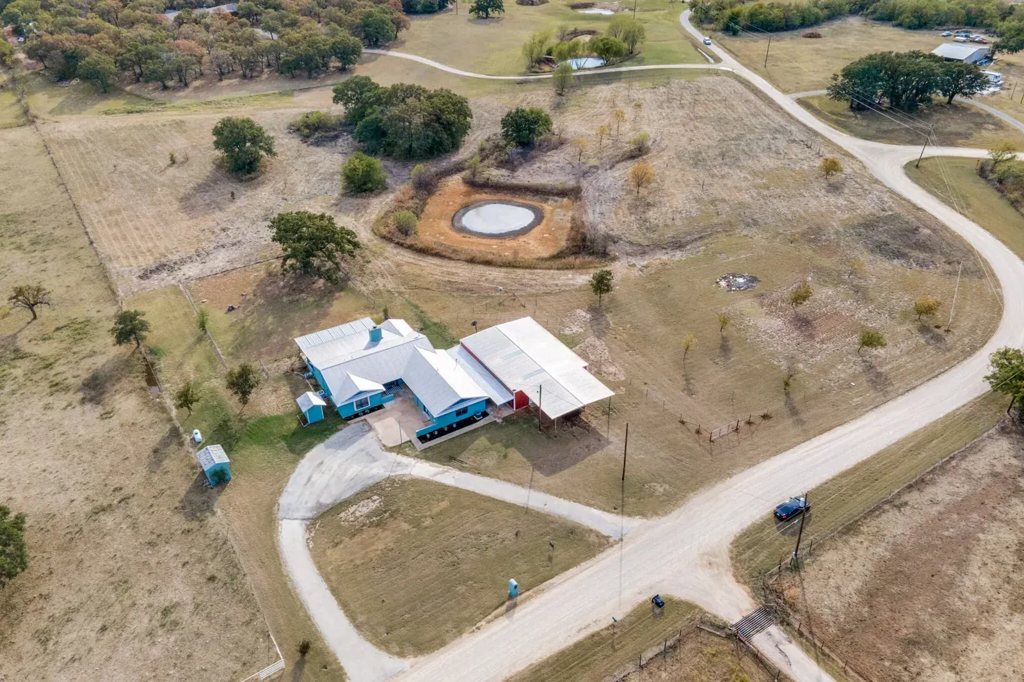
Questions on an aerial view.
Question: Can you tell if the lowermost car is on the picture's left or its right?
right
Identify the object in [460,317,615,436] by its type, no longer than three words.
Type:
barn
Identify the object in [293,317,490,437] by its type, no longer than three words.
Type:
house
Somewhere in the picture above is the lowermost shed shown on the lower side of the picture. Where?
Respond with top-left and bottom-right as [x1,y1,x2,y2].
[204,452,234,485]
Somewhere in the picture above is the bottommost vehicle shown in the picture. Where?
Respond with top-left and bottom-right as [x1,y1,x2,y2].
[775,496,814,521]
